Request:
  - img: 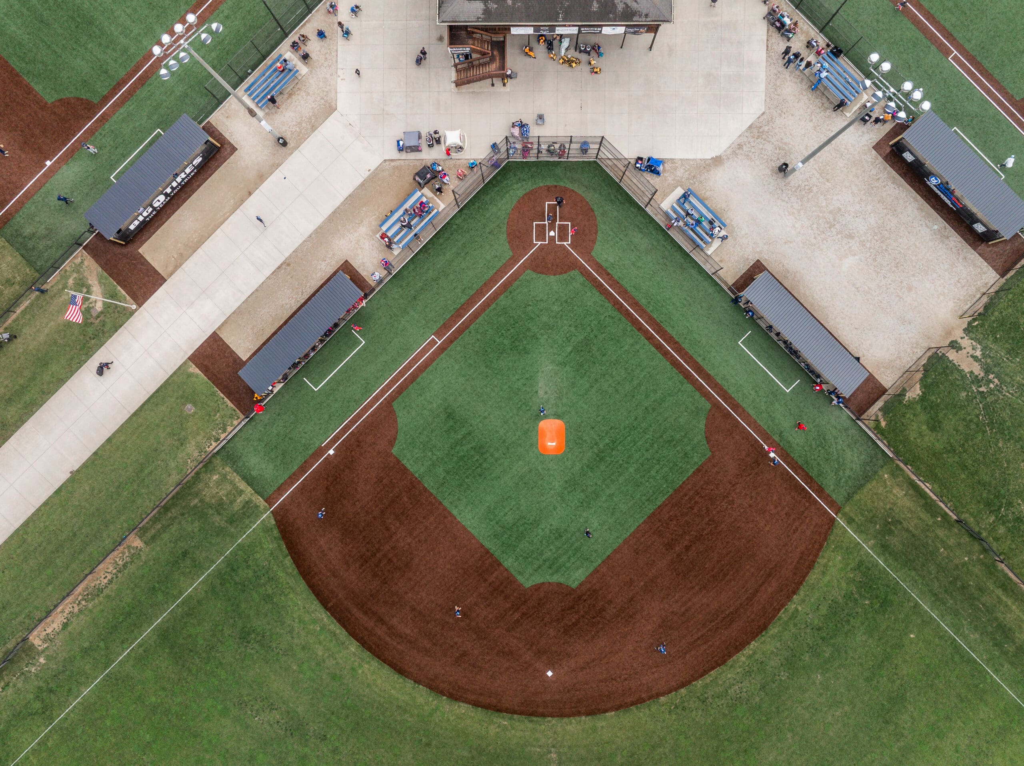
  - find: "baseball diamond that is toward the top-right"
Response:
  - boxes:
[789,0,1024,234]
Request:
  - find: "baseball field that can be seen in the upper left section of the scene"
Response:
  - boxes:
[0,0,321,280]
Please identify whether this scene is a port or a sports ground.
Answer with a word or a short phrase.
sports ground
